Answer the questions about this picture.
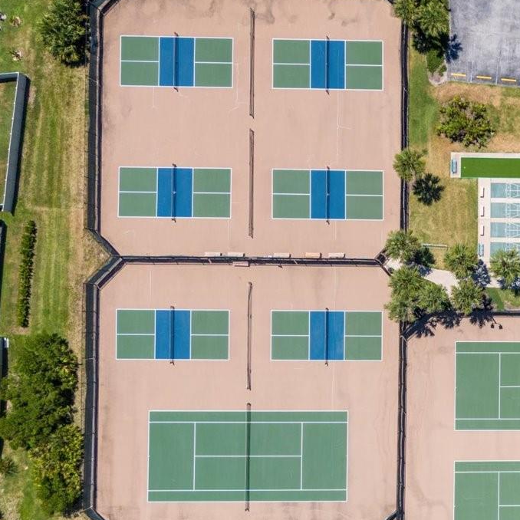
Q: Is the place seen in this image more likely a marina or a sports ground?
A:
sports ground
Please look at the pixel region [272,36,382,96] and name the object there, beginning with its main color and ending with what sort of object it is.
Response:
green sports court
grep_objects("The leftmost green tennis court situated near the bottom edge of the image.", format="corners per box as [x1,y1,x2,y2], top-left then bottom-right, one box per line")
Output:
[147,403,349,512]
